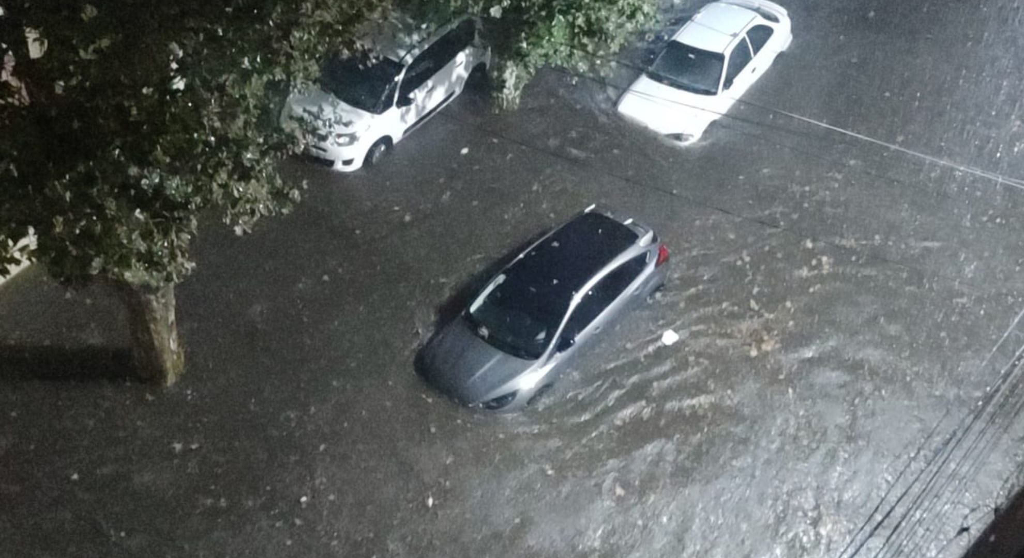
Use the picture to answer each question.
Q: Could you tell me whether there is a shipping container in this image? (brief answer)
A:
No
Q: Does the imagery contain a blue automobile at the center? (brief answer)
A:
No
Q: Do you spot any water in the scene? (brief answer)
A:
Yes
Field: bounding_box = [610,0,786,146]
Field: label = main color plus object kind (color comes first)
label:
white car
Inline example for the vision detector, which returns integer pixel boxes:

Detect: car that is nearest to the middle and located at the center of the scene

[418,205,664,413]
